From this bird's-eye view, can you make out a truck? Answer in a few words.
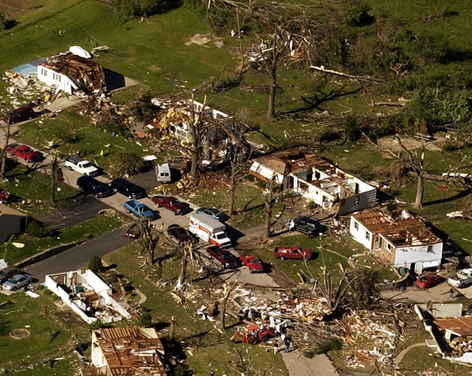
Yes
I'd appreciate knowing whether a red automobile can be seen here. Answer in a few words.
Yes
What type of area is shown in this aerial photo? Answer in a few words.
residential area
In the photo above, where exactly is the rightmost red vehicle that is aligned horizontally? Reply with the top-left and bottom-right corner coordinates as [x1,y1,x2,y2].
[411,275,445,292]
